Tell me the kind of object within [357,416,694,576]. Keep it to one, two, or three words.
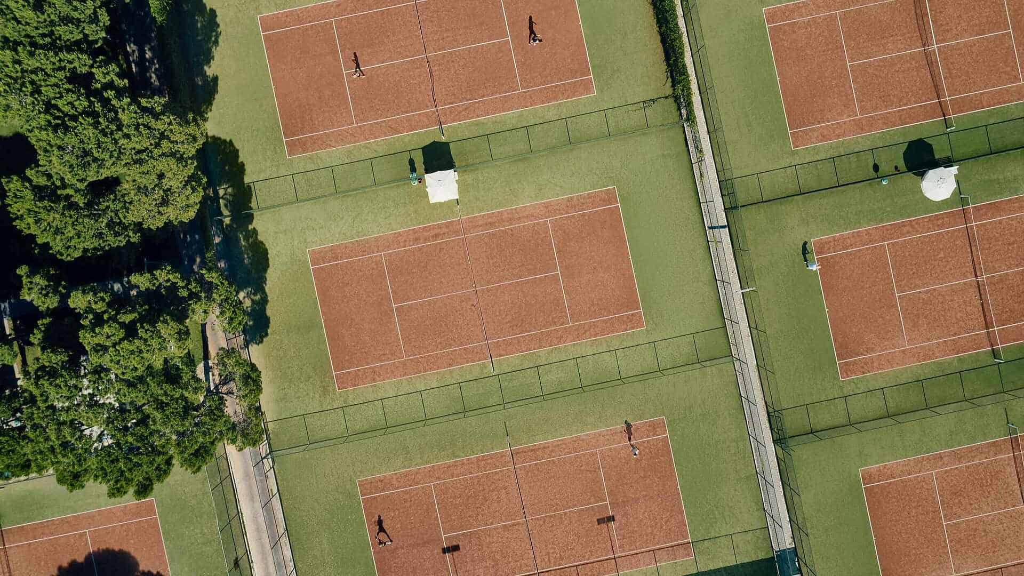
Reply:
tennis court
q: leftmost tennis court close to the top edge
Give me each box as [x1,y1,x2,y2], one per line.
[258,0,595,158]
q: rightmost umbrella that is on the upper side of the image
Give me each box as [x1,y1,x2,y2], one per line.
[919,167,955,202]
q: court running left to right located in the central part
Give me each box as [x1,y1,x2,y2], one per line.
[308,186,645,391]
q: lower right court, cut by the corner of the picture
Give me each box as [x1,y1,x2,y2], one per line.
[859,435,1024,576]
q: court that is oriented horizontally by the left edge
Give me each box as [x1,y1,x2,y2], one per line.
[0,498,169,576]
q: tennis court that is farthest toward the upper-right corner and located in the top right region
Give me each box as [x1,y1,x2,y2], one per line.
[764,0,1024,150]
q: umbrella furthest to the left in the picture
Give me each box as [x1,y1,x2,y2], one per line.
[426,171,459,204]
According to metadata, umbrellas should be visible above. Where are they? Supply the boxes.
[426,171,459,204]
[919,167,955,202]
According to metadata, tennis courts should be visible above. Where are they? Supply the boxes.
[0,498,169,576]
[859,435,1024,576]
[764,0,1024,150]
[812,196,1024,381]
[308,186,645,391]
[258,0,595,158]
[357,416,694,576]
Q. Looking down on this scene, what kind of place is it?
sports ground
